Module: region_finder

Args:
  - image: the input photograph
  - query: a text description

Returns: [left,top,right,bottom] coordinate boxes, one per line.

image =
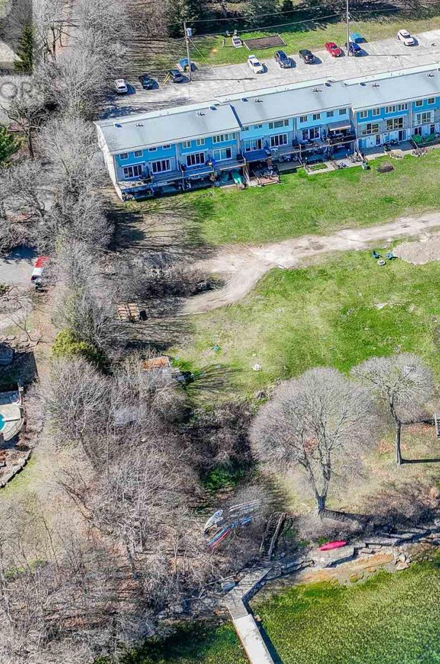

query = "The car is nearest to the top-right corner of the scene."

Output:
[396,25,417,43]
